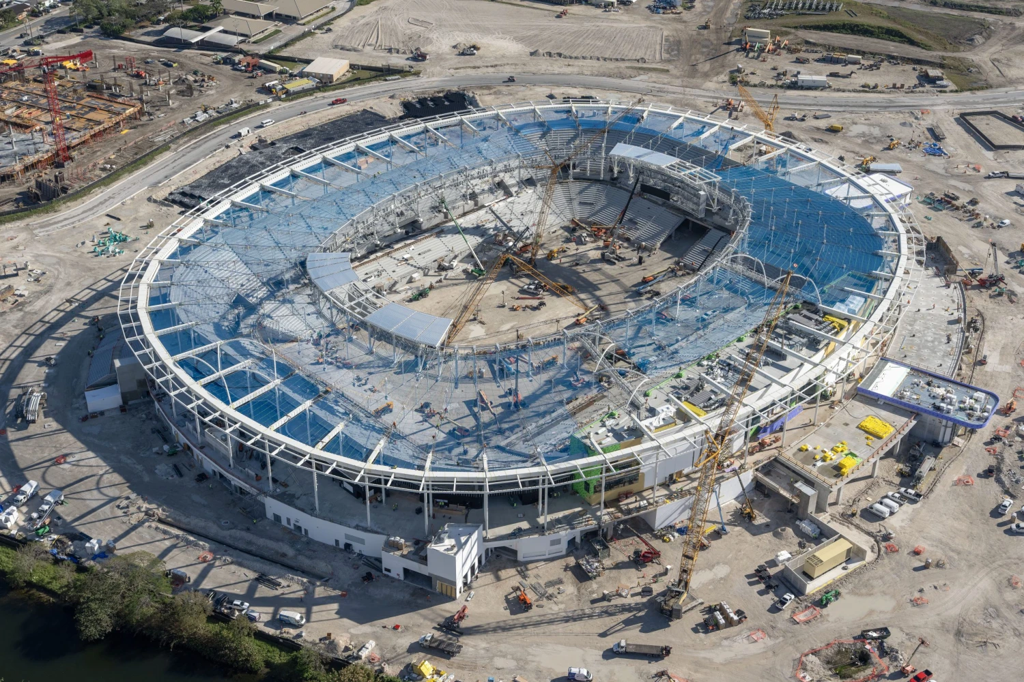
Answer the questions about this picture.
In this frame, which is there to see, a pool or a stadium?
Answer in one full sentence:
There is a stadium in the scene.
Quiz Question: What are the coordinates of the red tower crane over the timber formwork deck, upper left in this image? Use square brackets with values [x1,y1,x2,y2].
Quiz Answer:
[0,50,94,166]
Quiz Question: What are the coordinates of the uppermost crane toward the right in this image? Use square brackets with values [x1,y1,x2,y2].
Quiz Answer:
[737,86,789,164]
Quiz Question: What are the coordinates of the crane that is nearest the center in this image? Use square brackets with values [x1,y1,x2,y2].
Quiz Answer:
[418,226,590,367]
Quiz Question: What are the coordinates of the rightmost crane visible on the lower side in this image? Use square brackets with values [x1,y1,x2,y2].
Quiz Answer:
[648,272,793,623]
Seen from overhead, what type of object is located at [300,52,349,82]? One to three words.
building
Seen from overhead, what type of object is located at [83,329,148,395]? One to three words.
shed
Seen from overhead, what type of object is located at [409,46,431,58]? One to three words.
vehicle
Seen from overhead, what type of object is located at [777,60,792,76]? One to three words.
work vehicle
